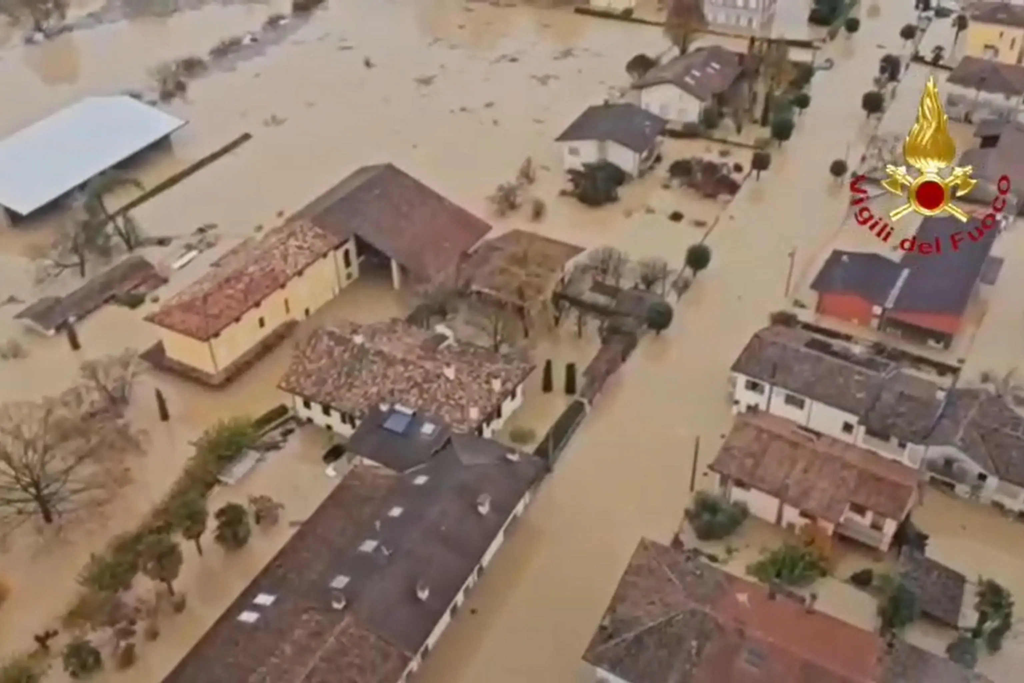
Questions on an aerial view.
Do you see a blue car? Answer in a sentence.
No, there appears to be no blue car in this shot.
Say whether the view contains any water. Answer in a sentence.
Yes, there is water in the image.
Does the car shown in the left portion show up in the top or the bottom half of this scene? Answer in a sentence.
The car shown in the left portion sits in the bottom half of the picture.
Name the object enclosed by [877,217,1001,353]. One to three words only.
building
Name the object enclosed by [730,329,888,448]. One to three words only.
house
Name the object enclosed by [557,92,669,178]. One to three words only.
house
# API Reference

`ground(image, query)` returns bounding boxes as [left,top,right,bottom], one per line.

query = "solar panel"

[379,396,420,437]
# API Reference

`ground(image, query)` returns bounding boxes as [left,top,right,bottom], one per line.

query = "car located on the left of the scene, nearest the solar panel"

[314,445,349,471]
